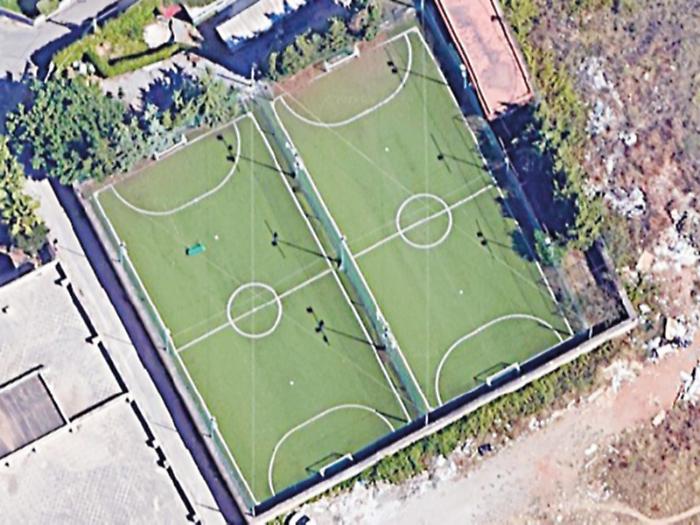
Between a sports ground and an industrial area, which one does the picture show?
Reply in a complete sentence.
The picture captures a sports ground.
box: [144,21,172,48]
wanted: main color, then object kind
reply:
white umbrella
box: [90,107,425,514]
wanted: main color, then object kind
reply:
green soccer field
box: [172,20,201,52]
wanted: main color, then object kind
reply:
white gazebo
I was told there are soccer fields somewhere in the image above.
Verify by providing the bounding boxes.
[253,24,577,426]
[90,107,425,514]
